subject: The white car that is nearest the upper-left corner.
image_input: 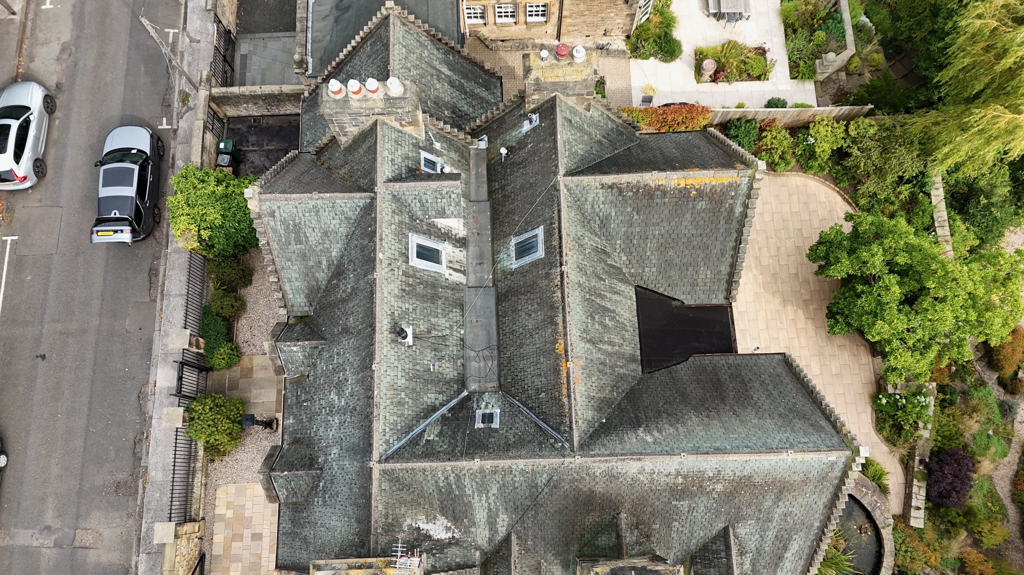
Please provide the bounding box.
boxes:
[0,82,56,193]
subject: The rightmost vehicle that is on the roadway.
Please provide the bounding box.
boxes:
[84,126,167,251]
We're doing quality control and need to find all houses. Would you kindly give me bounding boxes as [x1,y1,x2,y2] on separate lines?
[462,0,650,44]
[246,6,867,575]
